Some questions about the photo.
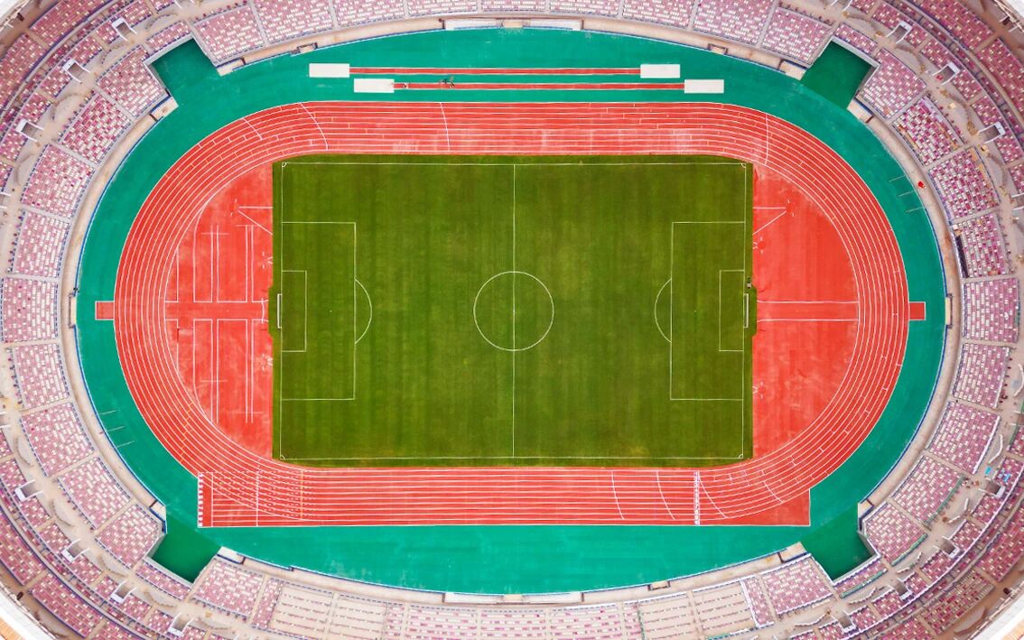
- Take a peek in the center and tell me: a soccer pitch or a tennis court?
soccer pitch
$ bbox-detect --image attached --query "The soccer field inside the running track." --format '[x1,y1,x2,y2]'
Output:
[269,154,758,467]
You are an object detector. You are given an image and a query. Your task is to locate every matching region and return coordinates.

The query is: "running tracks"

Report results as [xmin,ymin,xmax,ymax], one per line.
[115,101,909,527]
